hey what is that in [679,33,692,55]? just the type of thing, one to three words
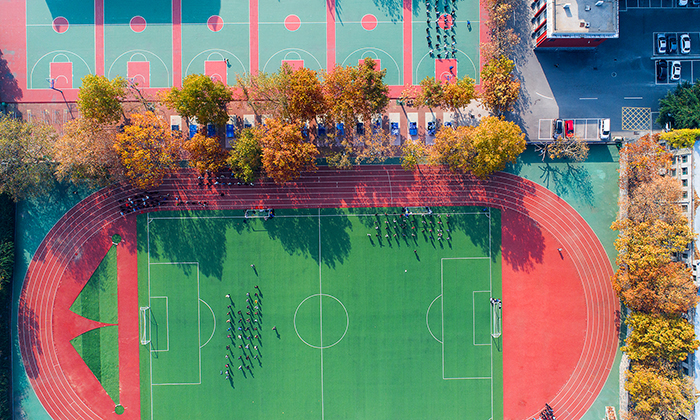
vehicle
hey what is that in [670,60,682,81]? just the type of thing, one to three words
vehicle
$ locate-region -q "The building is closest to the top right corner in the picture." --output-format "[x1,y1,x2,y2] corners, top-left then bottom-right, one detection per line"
[528,0,621,51]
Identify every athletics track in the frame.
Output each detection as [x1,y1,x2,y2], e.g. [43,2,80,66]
[20,166,622,420]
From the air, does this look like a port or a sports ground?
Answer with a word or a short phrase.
sports ground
